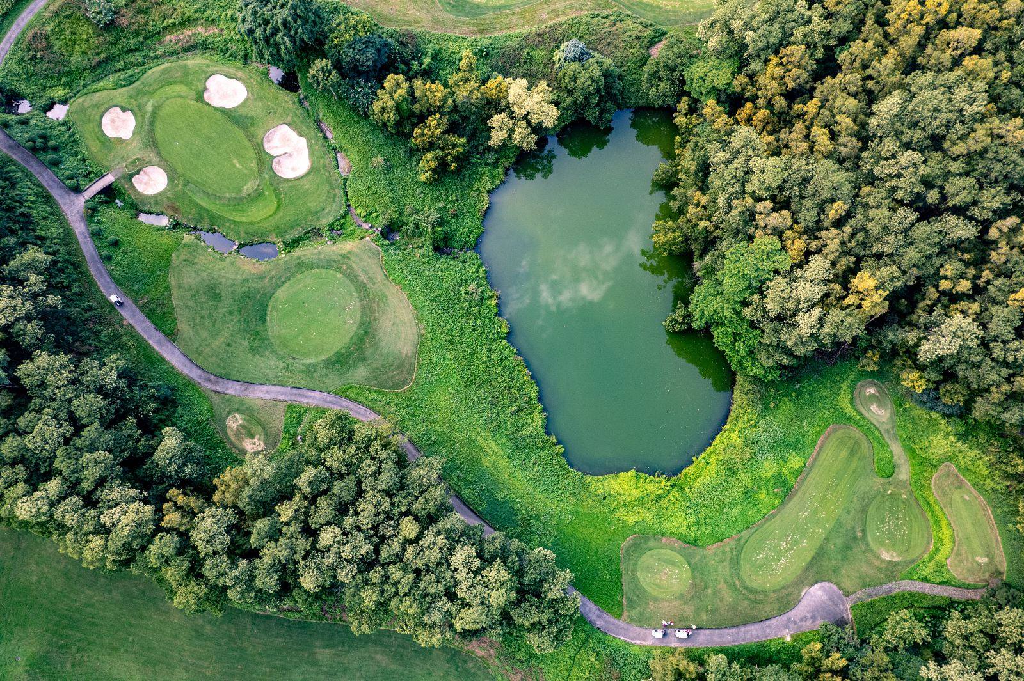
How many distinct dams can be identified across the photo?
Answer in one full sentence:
I count no dams.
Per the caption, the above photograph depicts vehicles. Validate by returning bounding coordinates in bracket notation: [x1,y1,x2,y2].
[674,630,687,638]
[651,630,663,638]
[110,295,122,305]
